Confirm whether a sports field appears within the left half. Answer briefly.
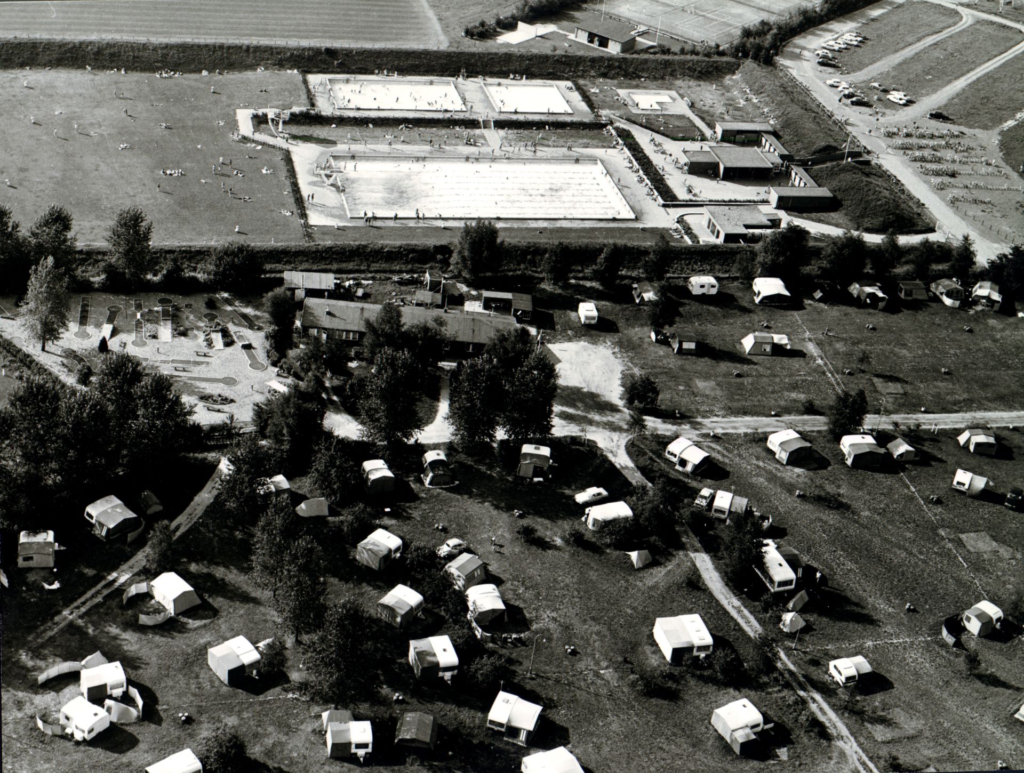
No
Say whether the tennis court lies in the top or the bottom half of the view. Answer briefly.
top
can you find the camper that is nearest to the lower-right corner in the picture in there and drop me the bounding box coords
[976,604,1003,637]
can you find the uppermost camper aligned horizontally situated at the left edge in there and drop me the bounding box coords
[19,531,64,555]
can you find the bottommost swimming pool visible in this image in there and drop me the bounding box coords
[331,151,635,221]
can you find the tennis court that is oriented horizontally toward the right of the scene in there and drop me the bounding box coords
[592,0,815,44]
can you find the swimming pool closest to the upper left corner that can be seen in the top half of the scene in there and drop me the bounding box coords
[326,75,467,112]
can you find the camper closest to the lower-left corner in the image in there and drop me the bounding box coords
[71,706,109,745]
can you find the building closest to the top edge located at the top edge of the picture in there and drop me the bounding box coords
[575,21,639,54]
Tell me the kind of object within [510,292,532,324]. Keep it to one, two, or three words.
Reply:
shed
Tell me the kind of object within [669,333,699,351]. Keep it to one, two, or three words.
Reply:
tent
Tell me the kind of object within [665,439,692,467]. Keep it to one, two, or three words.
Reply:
camper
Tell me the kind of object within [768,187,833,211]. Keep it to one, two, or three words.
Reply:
building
